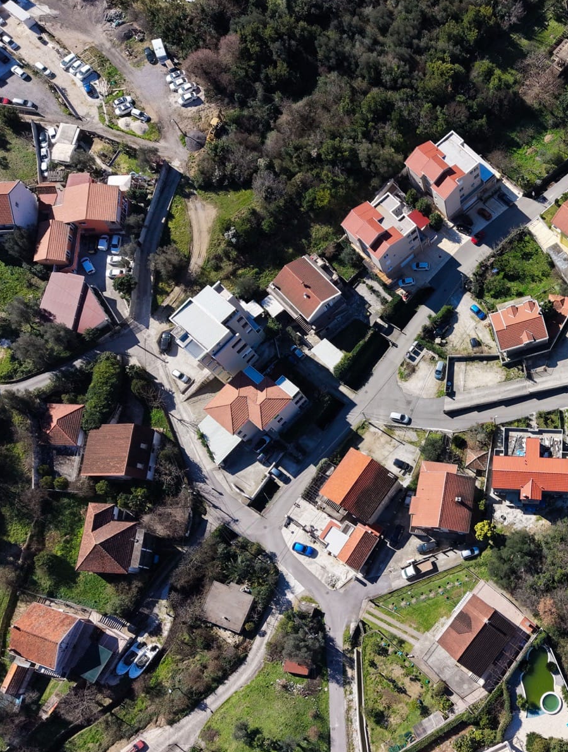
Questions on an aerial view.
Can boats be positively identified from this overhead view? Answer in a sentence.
Yes, a boat is visible in the scene.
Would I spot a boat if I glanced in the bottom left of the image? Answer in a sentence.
Yes, a boat appears in the bottom left of the image.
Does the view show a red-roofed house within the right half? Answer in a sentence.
Yes, a red-roofed house can be seen within the right half.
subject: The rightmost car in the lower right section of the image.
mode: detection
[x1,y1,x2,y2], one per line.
[459,547,479,560]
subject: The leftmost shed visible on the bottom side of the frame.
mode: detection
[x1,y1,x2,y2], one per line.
[0,663,37,697]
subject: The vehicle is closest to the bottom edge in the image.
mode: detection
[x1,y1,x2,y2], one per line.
[126,737,149,752]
